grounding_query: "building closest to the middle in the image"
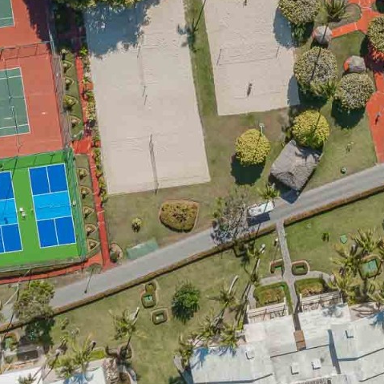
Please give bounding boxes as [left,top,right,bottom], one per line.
[270,139,323,193]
